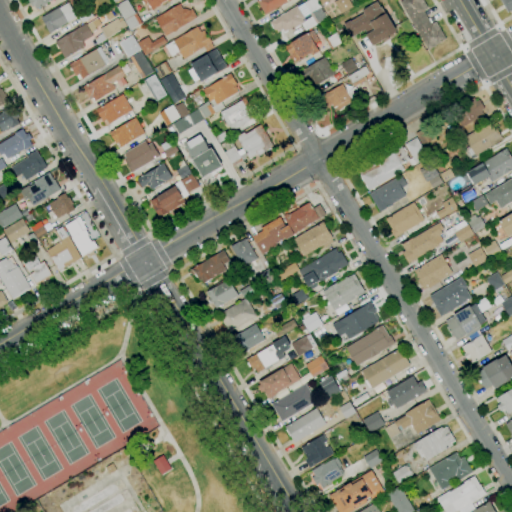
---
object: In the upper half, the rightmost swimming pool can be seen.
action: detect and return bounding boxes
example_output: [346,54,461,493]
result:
[450,176,466,192]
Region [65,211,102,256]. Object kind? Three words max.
building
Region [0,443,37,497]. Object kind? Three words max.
tennis court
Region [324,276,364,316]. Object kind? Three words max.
house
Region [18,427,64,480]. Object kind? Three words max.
tennis court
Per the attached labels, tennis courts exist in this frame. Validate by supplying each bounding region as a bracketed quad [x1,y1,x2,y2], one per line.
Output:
[98,379,142,432]
[45,411,90,464]
[18,427,64,480]
[0,443,37,497]
[72,395,116,448]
